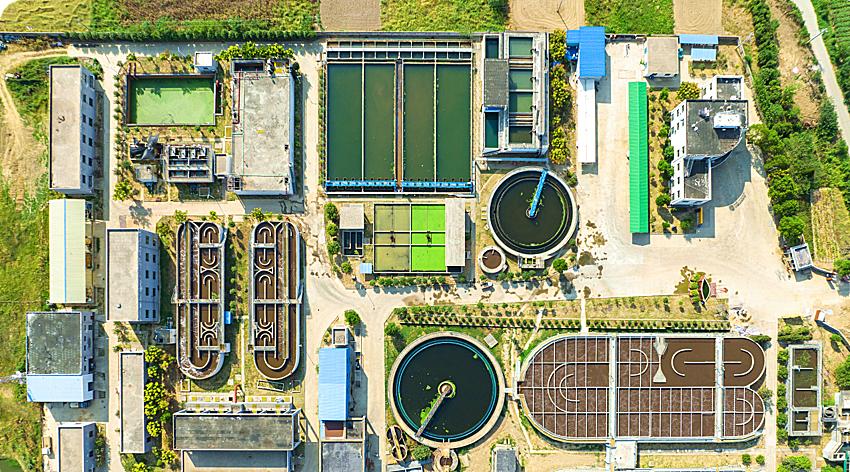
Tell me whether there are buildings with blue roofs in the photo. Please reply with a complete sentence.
Yes, there is a building with a blue roof in the image.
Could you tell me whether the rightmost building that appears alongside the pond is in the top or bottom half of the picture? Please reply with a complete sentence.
The top half of the photo is where the rightmost building that appears alongside the pond is.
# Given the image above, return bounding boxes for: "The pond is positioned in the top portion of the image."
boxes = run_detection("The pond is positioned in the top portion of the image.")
[125,73,220,129]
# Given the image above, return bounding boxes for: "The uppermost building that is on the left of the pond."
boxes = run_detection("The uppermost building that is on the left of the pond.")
[49,65,95,194]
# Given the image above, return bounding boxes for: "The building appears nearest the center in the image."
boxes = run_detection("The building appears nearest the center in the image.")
[446,197,467,268]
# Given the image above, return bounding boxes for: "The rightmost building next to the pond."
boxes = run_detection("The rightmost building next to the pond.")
[232,60,295,196]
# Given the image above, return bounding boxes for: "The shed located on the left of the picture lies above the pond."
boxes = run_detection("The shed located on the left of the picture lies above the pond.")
[195,52,219,74]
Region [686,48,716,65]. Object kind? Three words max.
shed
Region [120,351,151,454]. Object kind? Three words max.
building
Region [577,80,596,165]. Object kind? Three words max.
shed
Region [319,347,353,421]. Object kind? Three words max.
house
